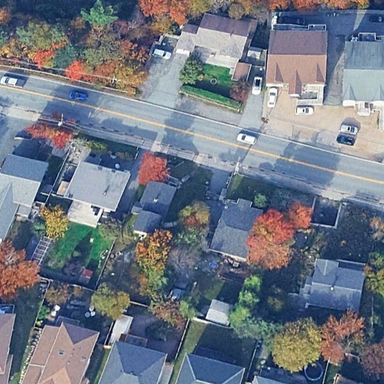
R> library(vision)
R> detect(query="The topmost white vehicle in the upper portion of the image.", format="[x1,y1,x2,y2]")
[151,47,174,59]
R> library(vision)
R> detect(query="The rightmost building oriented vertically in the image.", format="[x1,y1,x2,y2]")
[342,32,384,130]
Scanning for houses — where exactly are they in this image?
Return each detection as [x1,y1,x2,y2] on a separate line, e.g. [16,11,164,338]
[0,153,49,240]
[333,375,363,384]
[266,23,328,106]
[177,344,245,384]
[176,13,257,69]
[101,333,167,384]
[342,32,384,130]
[133,178,181,237]
[210,198,264,261]
[0,305,16,384]
[22,315,99,384]
[65,160,130,225]
[286,258,365,313]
